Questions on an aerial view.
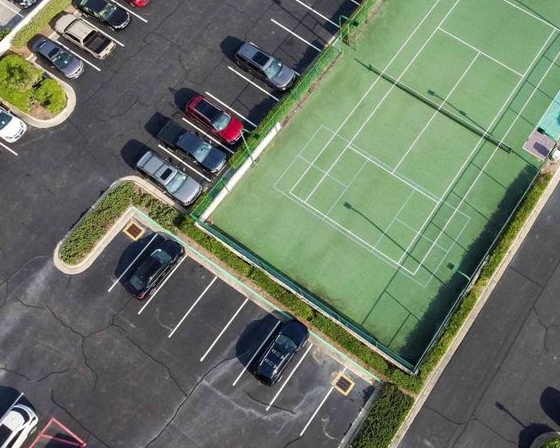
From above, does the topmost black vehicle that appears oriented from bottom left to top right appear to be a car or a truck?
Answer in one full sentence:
The topmost black vehicle that appears oriented from bottom left to top right in the image is a car.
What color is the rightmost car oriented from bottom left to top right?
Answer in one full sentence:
The color of the rightmost car oriented from bottom left to top right is black.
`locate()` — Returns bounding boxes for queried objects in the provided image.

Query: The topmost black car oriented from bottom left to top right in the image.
[126,237,186,300]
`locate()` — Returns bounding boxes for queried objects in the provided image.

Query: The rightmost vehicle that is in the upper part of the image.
[235,42,295,91]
